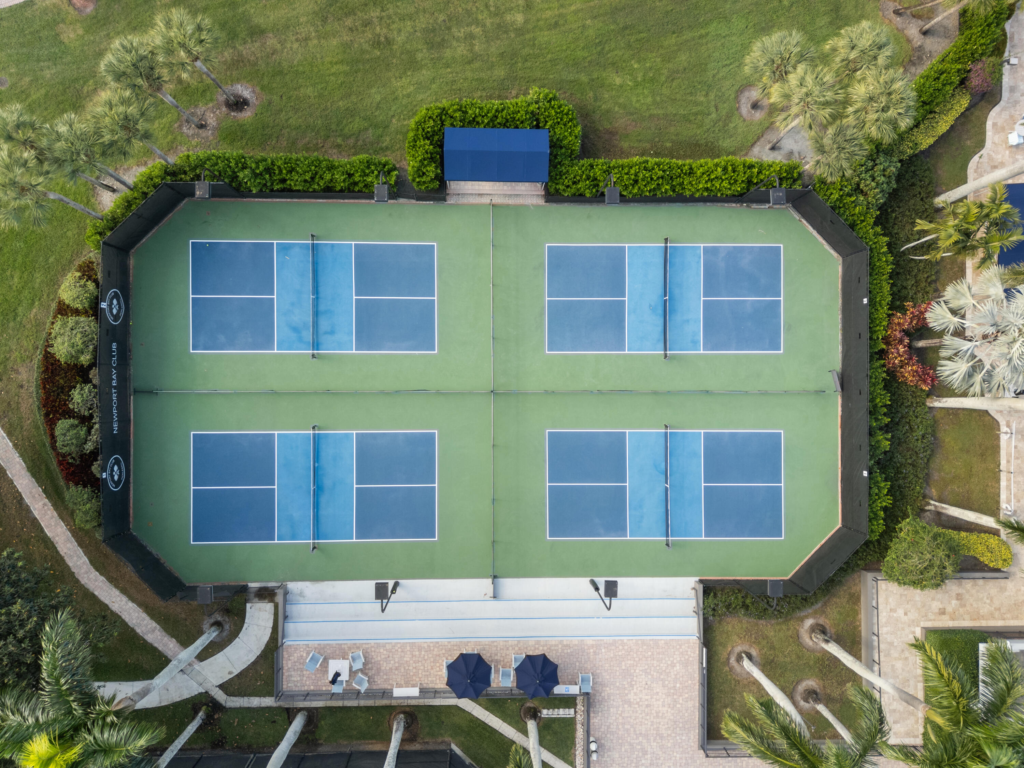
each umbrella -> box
[514,653,560,699]
[447,654,491,698]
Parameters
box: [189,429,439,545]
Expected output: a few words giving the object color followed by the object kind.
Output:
blue sports court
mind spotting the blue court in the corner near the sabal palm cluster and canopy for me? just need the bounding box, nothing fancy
[544,242,785,355]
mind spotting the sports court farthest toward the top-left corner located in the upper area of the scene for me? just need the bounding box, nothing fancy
[188,238,439,355]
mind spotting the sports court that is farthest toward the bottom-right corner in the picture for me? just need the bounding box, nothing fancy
[545,428,786,541]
